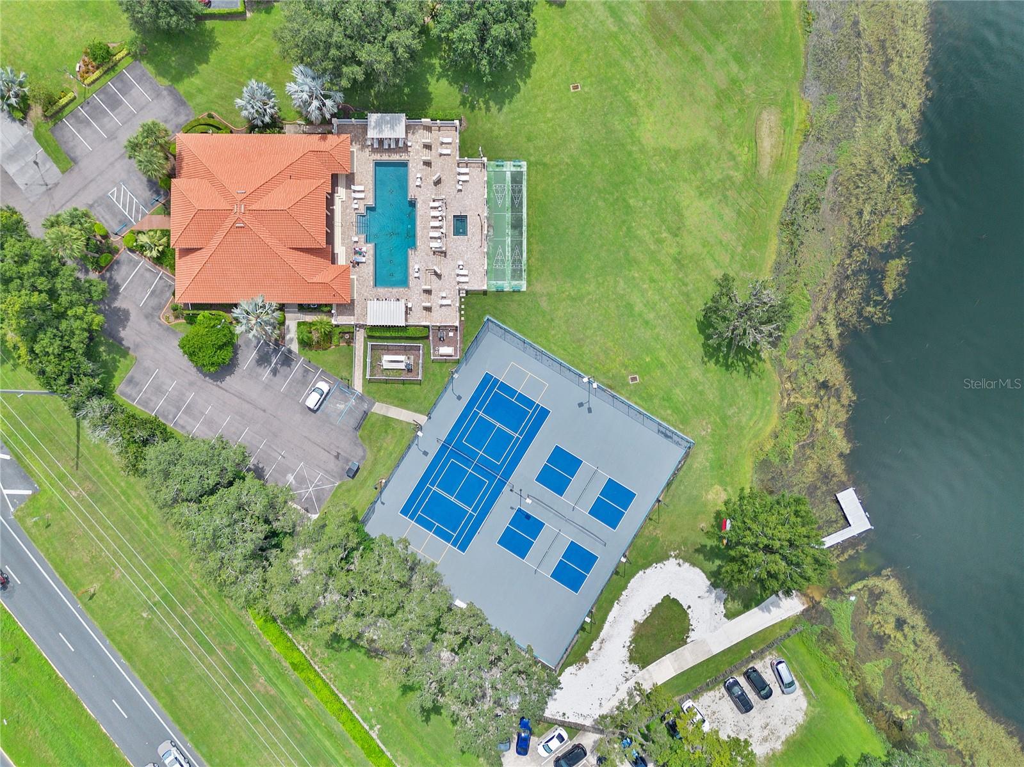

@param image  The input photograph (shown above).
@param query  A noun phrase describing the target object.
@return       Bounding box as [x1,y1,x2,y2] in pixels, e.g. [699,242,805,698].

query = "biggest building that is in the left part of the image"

[170,132,356,303]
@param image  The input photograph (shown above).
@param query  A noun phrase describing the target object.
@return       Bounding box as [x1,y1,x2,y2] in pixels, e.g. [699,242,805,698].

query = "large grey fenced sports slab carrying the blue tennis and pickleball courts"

[364,320,691,671]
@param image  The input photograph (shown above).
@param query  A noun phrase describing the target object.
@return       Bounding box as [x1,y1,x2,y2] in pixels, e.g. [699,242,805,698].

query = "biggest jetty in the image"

[821,486,875,547]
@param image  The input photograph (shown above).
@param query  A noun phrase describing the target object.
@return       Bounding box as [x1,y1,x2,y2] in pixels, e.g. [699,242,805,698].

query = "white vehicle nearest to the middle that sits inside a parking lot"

[305,380,331,411]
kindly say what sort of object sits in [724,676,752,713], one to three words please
car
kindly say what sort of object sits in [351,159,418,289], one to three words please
swimming pool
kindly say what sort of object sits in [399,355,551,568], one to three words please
tennis court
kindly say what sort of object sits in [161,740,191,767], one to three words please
car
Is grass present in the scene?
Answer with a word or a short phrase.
Yes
